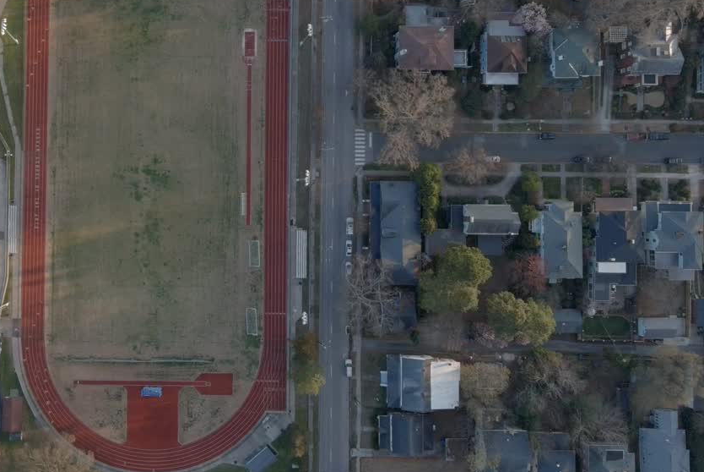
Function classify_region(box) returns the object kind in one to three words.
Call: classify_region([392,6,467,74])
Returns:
house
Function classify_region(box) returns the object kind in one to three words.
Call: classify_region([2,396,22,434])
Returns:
shed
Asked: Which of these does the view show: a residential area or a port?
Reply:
residential area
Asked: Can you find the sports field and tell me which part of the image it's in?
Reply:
left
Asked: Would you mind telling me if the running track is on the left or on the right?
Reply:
left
